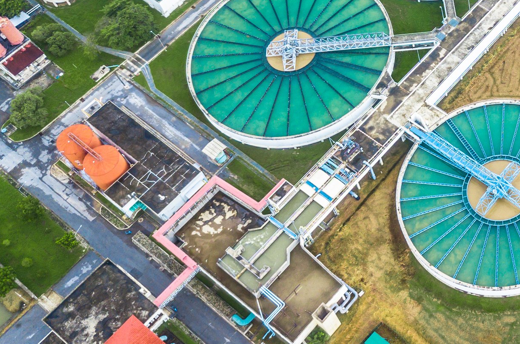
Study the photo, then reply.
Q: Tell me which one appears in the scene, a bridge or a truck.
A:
bridge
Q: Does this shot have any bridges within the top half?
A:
Yes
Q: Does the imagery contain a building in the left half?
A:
Yes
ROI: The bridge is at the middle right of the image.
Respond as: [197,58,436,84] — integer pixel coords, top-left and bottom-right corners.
[412,126,520,214]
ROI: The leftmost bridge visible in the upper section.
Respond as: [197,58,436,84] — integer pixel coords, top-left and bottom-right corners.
[264,24,394,68]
